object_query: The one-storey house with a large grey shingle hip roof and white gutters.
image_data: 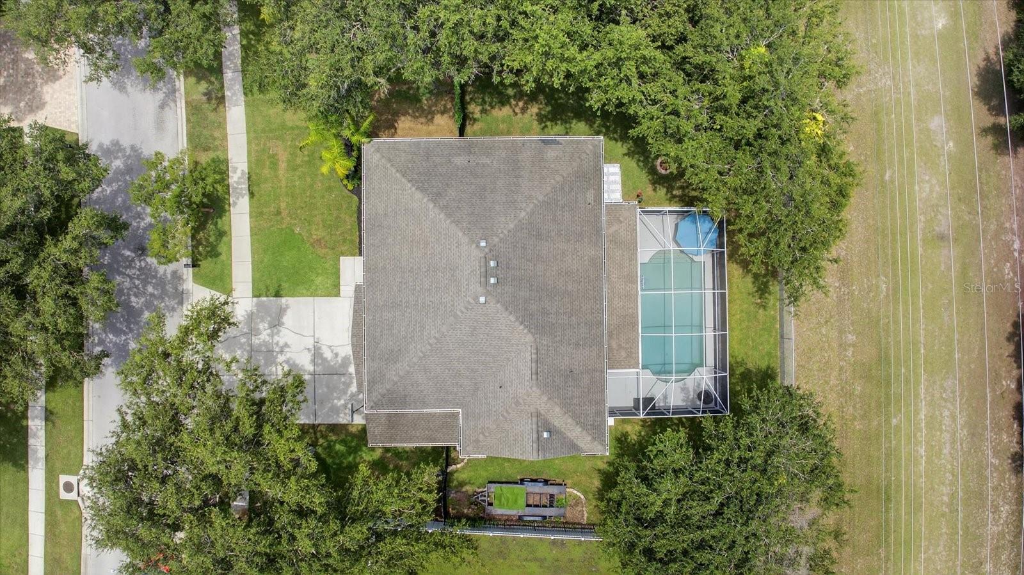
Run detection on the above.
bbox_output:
[351,133,644,464]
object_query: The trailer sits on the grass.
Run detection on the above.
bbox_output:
[471,476,567,523]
